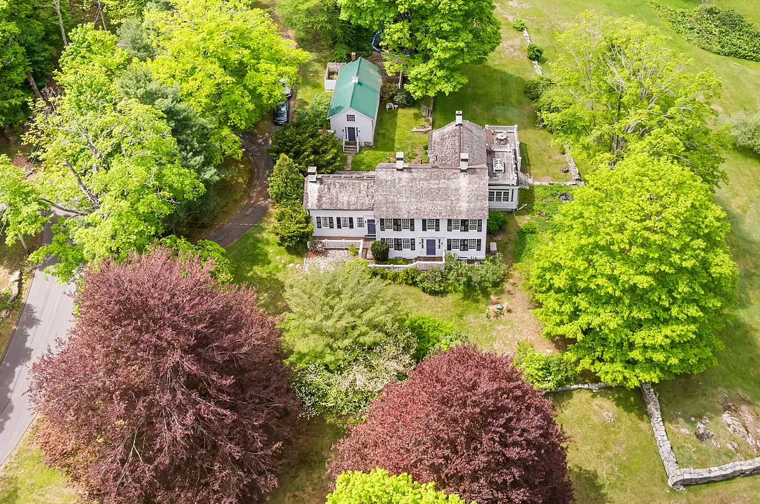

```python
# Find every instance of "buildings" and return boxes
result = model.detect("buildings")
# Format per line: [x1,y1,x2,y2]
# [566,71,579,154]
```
[327,50,382,153]
[304,104,543,267]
